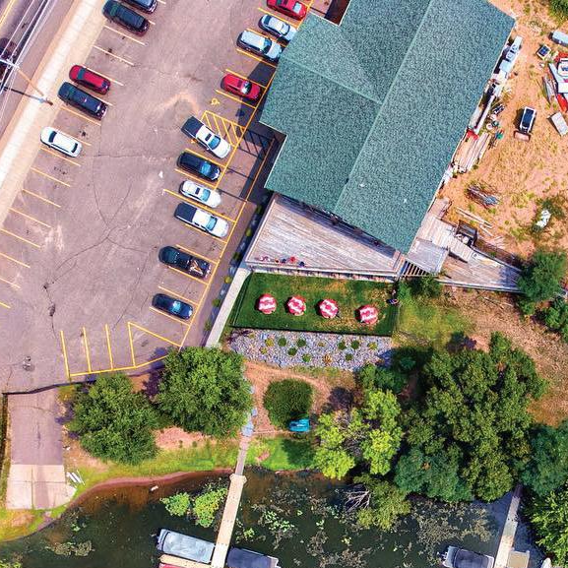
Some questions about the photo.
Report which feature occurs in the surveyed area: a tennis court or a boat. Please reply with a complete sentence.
The one in the frame is a boat.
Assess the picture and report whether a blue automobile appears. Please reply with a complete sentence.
Yes, the frame does contain a blue automobile.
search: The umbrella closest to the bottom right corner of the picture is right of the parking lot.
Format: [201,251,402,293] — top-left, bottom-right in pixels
[357,300,377,321]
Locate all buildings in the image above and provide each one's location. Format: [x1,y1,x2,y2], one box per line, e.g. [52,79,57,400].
[455,216,477,244]
[258,0,516,254]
